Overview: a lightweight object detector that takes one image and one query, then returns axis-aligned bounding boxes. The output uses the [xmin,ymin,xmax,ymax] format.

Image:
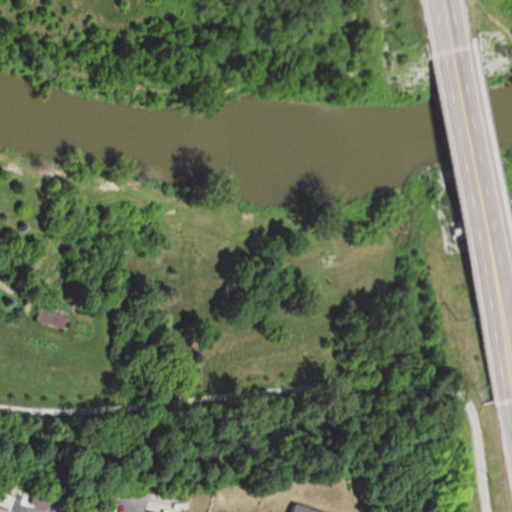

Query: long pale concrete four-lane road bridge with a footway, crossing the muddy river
[430,28,512,407]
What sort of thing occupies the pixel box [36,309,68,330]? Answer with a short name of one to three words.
building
